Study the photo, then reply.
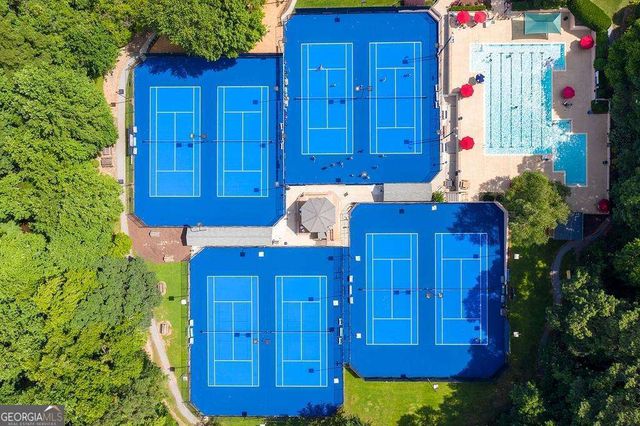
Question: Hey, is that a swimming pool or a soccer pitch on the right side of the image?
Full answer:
What appears on the right side of the image is a swimming pool.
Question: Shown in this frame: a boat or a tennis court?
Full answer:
Of the two, only a tennis court appears.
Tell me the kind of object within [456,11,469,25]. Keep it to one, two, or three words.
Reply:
umbrella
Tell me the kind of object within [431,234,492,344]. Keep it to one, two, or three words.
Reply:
tennis court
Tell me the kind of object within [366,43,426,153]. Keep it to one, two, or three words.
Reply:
tennis court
